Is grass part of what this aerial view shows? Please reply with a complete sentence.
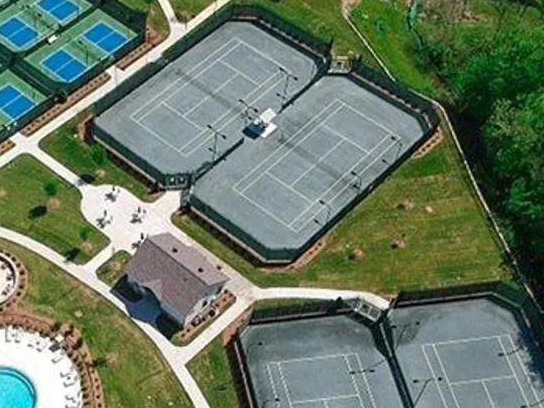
Yes, the picture does contain grass.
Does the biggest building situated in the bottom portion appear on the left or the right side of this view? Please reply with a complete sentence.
It is on the left.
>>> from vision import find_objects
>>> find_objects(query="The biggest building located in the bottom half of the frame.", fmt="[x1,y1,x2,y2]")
[124,233,230,329]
